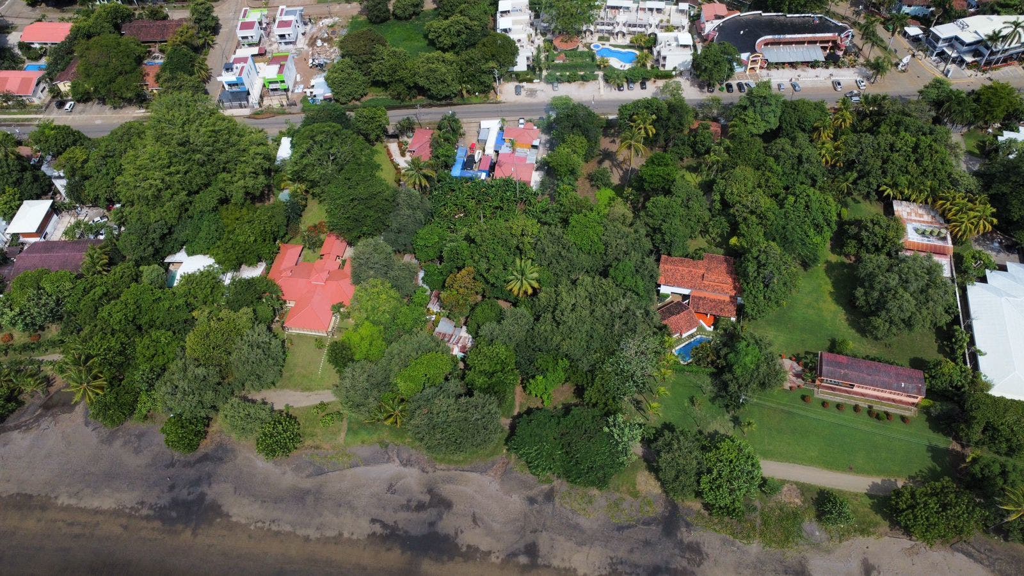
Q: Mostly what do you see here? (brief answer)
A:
trees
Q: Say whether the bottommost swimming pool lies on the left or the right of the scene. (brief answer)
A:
right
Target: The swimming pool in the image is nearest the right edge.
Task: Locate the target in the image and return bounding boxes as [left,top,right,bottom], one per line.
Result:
[673,335,714,359]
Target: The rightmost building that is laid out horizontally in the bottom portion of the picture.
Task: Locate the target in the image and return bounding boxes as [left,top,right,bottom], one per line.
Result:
[812,350,925,407]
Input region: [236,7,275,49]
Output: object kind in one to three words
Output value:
house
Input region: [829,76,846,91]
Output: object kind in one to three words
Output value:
car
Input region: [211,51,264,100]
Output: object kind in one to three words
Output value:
house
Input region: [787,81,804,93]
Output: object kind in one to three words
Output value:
vehicle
